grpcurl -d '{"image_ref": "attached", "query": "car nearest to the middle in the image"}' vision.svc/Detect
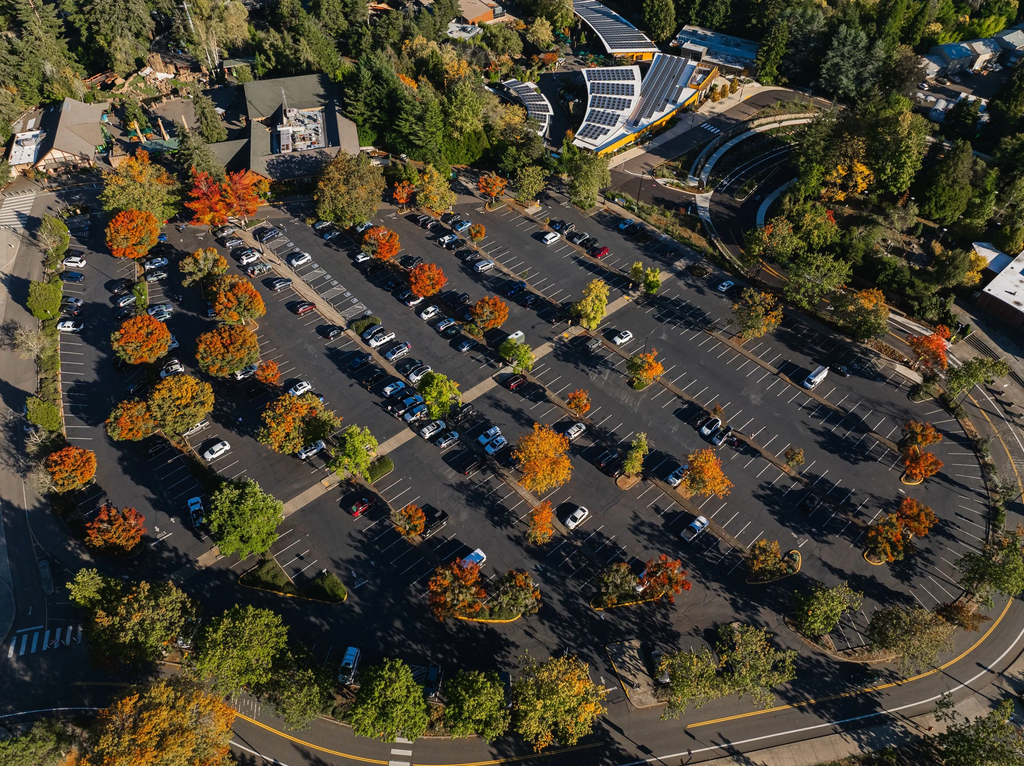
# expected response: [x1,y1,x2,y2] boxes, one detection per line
[505,373,528,390]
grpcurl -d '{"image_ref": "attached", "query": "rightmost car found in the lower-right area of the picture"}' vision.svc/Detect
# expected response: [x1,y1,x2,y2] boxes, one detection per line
[849,670,883,689]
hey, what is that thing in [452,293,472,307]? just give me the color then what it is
black car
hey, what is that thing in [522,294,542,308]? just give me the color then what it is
black car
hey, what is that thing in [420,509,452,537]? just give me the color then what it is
black truck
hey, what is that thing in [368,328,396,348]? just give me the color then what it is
white vehicle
